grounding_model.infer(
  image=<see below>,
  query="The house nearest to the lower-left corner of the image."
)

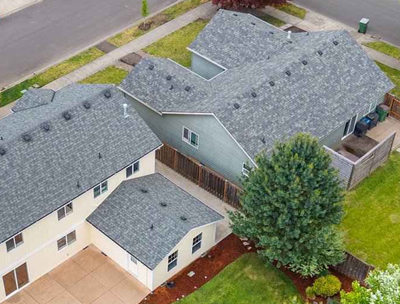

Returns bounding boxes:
[0,85,227,303]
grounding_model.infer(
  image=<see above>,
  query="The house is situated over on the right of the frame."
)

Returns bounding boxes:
[115,10,396,199]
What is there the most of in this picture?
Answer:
buildings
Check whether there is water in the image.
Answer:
No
